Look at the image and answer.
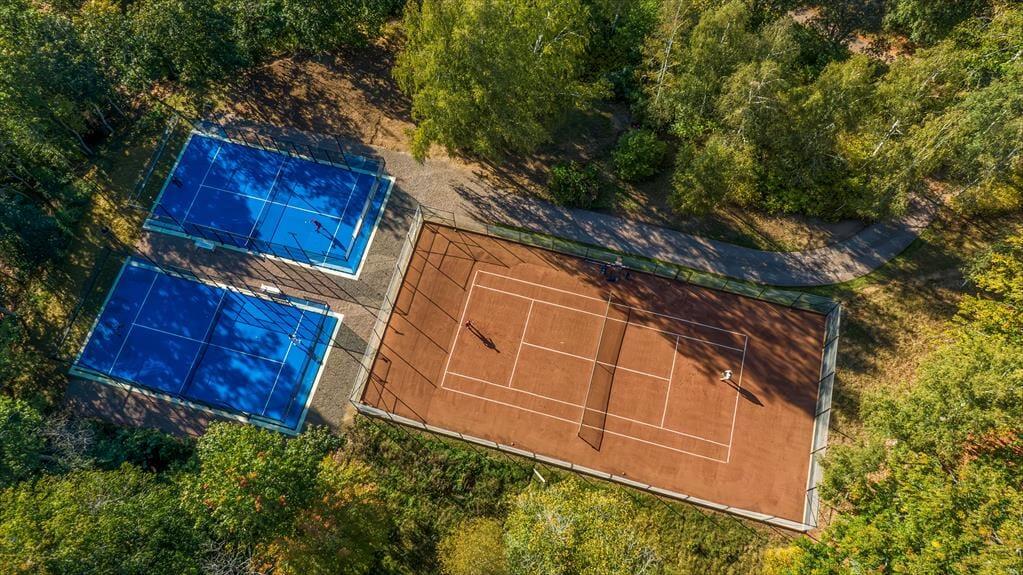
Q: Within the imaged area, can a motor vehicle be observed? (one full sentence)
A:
No, I can't see a single motor vehicle in this photo.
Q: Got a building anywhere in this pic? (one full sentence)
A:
No, no building is visible in the scene.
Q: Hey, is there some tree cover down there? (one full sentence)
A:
Yes, there's tree cover in this view.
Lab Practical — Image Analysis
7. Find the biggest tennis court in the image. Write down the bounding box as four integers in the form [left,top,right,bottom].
[360,223,825,528]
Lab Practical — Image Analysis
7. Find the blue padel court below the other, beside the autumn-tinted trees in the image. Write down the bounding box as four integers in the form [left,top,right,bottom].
[46,245,342,433]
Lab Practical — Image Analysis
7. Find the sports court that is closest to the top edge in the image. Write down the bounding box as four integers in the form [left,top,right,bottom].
[128,112,395,279]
